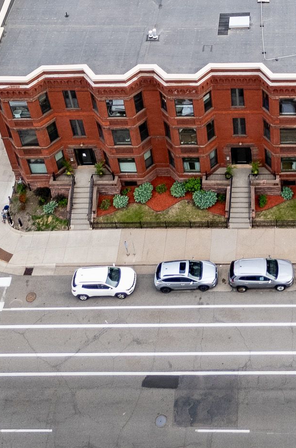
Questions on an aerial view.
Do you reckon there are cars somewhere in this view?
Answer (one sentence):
Yes, a car can be made out from above.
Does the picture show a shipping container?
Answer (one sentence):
No, there is no shipping container in the image.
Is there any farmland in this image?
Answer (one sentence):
No, no farmland is visible.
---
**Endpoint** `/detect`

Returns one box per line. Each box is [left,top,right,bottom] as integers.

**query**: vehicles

[152,257,222,296]
[70,262,142,300]
[227,257,296,296]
